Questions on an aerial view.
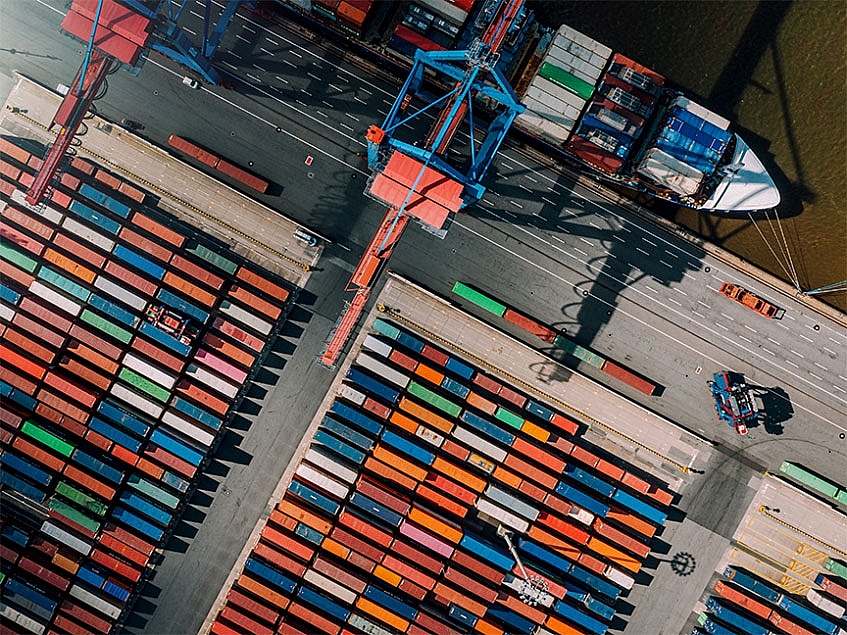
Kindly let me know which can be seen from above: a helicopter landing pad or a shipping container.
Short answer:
shipping container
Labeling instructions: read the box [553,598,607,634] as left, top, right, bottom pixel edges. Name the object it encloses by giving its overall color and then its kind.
blue shipping container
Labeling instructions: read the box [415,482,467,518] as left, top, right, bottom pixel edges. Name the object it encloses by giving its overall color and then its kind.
red shipping container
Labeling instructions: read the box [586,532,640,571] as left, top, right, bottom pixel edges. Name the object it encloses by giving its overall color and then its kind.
orange shipping container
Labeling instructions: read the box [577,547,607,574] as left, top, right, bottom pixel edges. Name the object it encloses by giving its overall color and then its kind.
red shipping container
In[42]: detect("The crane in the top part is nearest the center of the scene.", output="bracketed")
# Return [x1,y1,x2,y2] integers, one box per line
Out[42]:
[313,0,532,374]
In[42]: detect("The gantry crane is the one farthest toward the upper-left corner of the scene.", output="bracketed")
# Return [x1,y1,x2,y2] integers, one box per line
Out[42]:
[10,0,300,211]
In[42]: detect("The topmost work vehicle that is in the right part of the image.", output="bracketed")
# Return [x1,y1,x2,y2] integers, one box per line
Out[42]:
[706,373,768,435]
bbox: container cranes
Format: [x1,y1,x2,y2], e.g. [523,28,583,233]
[10,0,300,211]
[313,0,532,374]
